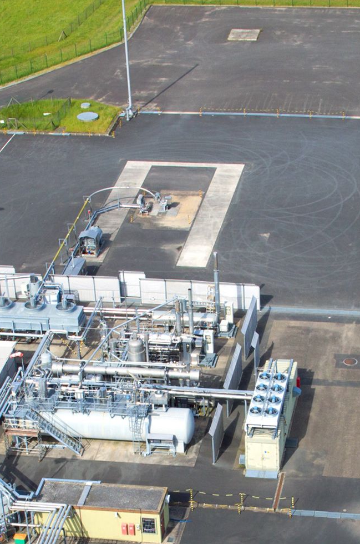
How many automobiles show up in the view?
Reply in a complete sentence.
The count of automobiles is 0.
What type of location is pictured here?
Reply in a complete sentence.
It's an industrial area.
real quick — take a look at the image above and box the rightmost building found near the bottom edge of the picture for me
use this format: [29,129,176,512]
[31,469,174,543]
